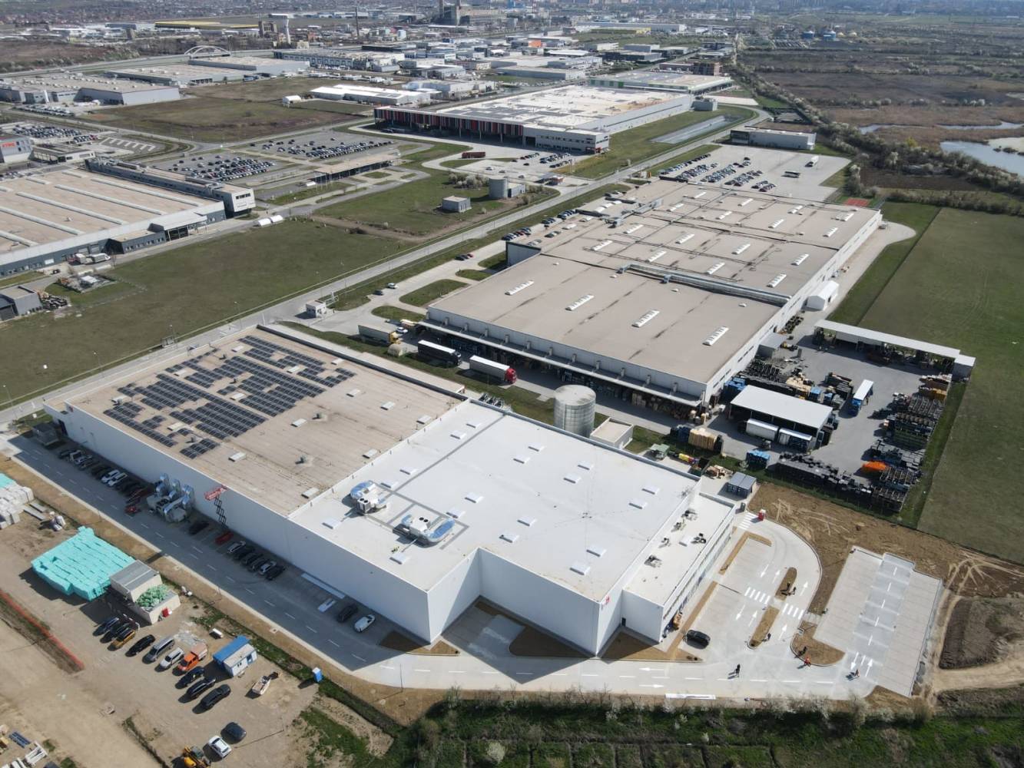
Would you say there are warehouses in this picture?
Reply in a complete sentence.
Yes, looking at the shot, I can spot a warehouse.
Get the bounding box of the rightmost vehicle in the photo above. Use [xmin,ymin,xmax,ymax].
[855,380,874,409]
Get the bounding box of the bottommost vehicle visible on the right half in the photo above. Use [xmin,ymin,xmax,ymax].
[683,625,713,646]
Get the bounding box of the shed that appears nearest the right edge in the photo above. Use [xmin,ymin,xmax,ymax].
[951,354,976,379]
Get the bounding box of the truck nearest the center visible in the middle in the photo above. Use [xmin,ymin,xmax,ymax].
[466,357,519,385]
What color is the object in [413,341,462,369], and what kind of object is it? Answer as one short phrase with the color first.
black truck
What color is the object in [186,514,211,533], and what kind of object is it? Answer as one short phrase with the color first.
black car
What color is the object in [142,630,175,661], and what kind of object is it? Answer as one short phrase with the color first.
gray van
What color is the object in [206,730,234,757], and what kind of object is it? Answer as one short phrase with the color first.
white car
